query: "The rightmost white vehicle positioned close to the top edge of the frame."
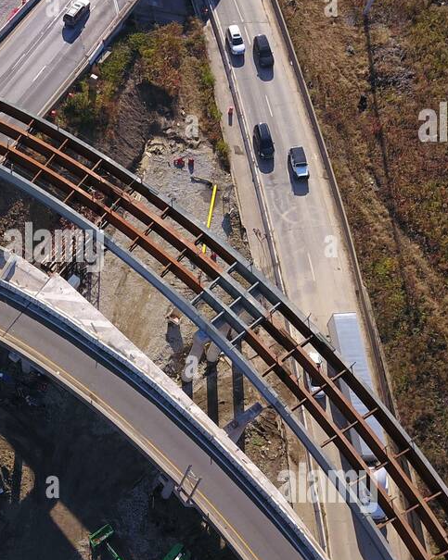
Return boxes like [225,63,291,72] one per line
[227,24,247,52]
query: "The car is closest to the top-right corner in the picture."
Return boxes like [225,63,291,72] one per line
[254,32,275,65]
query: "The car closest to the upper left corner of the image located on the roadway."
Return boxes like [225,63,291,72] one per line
[62,0,92,24]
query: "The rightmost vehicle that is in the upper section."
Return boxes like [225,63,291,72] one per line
[288,145,308,176]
